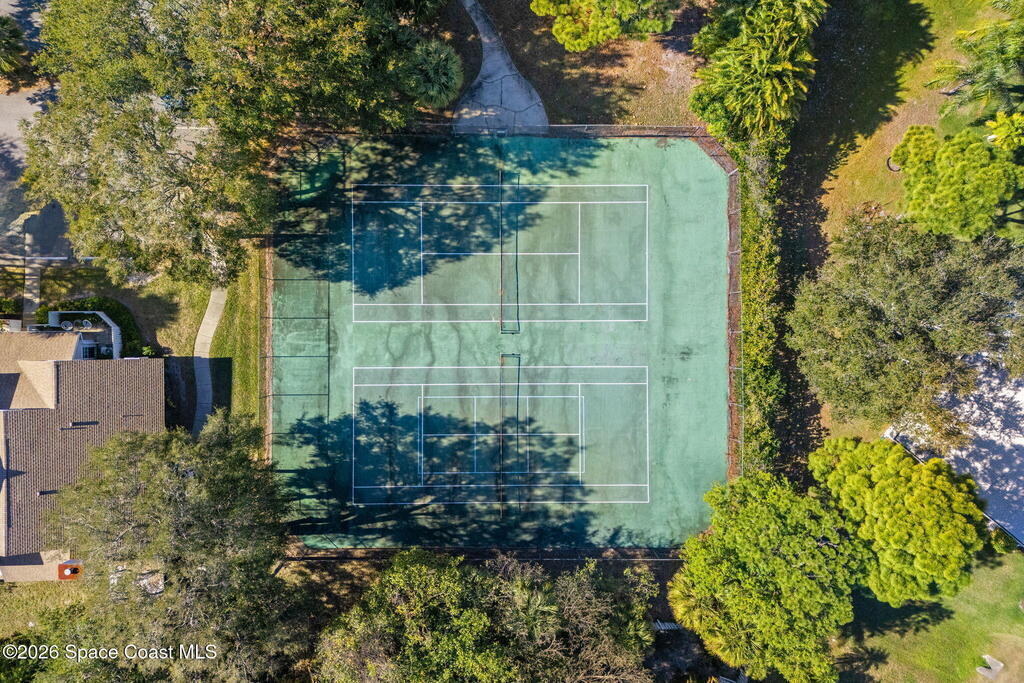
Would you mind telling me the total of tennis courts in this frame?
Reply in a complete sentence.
In total, there are 2 tennis courts in the scene.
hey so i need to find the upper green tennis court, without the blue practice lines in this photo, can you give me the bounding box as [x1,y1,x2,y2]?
[272,136,729,344]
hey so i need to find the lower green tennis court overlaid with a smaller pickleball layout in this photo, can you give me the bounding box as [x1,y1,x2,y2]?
[272,344,729,548]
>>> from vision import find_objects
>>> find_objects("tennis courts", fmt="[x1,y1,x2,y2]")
[272,344,729,548]
[272,136,729,344]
